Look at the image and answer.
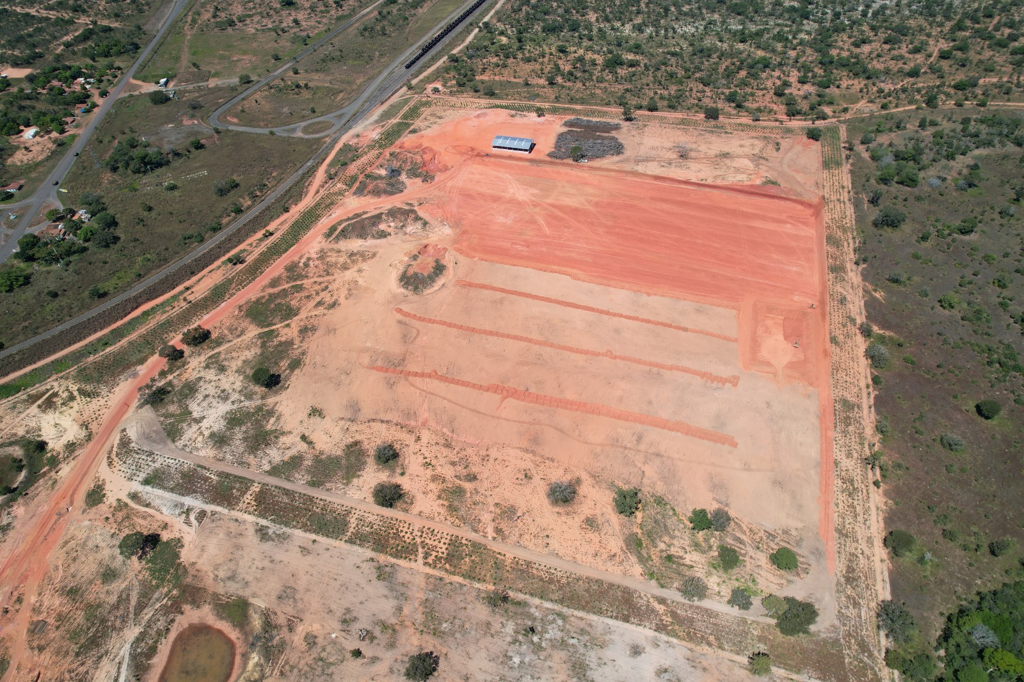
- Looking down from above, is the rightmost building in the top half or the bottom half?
top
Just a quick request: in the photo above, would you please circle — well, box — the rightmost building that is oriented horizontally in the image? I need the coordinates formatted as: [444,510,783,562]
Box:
[492,134,535,154]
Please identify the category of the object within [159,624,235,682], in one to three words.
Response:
pond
